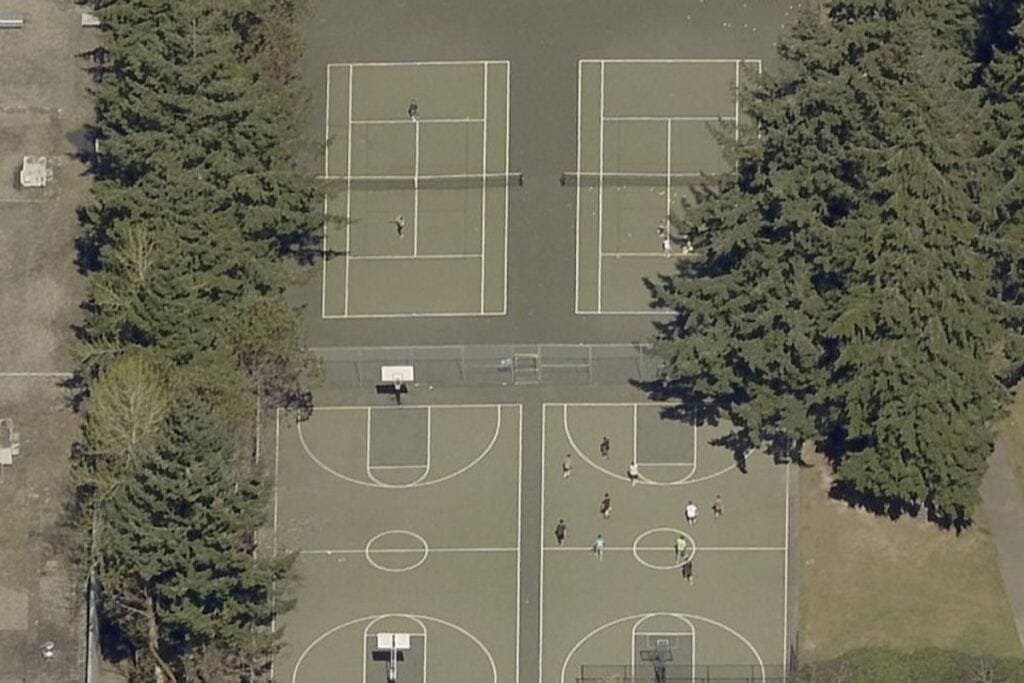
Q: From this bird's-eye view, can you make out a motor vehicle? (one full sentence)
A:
No, there appears to be no motor vehicle in this shot.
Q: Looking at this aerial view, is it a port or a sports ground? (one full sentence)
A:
The picture captures a sports ground.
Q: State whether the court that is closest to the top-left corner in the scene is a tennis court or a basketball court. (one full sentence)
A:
In the photo, the court that is closest to the top-left corner shows up as a tennis court.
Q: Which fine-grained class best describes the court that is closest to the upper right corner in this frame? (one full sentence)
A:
The court that is closest to the upper right corner can be classified as a tennis court.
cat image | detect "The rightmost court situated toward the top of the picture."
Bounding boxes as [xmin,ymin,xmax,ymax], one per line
[576,58,761,313]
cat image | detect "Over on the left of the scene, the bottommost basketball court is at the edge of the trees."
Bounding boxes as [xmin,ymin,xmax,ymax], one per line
[271,405,522,683]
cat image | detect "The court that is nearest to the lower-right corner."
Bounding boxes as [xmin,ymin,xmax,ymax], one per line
[539,401,788,683]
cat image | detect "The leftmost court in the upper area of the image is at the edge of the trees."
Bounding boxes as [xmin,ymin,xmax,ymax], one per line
[323,61,509,317]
